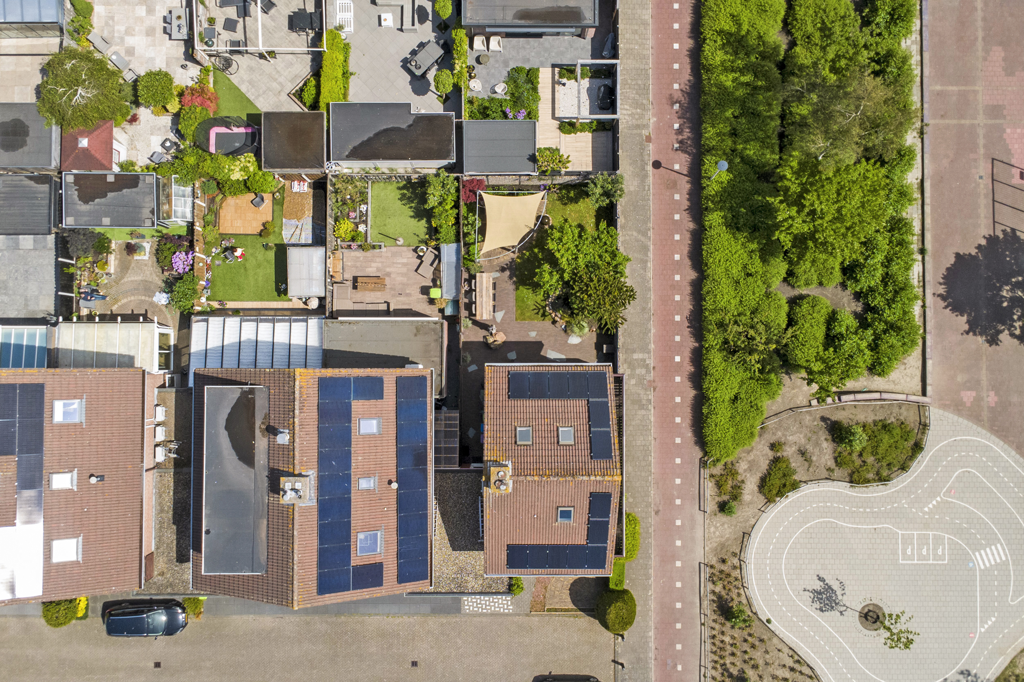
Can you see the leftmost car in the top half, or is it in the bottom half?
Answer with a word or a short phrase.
bottom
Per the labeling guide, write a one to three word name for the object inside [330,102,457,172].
shed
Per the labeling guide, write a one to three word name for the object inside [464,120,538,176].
shed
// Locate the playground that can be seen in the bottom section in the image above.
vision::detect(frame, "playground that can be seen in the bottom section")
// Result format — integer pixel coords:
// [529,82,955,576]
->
[746,408,1024,682]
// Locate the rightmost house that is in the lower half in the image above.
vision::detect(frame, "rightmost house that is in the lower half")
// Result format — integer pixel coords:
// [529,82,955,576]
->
[483,362,624,578]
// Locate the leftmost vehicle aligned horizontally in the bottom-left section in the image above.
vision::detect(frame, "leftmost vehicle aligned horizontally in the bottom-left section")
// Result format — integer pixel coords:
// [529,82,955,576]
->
[105,601,190,643]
